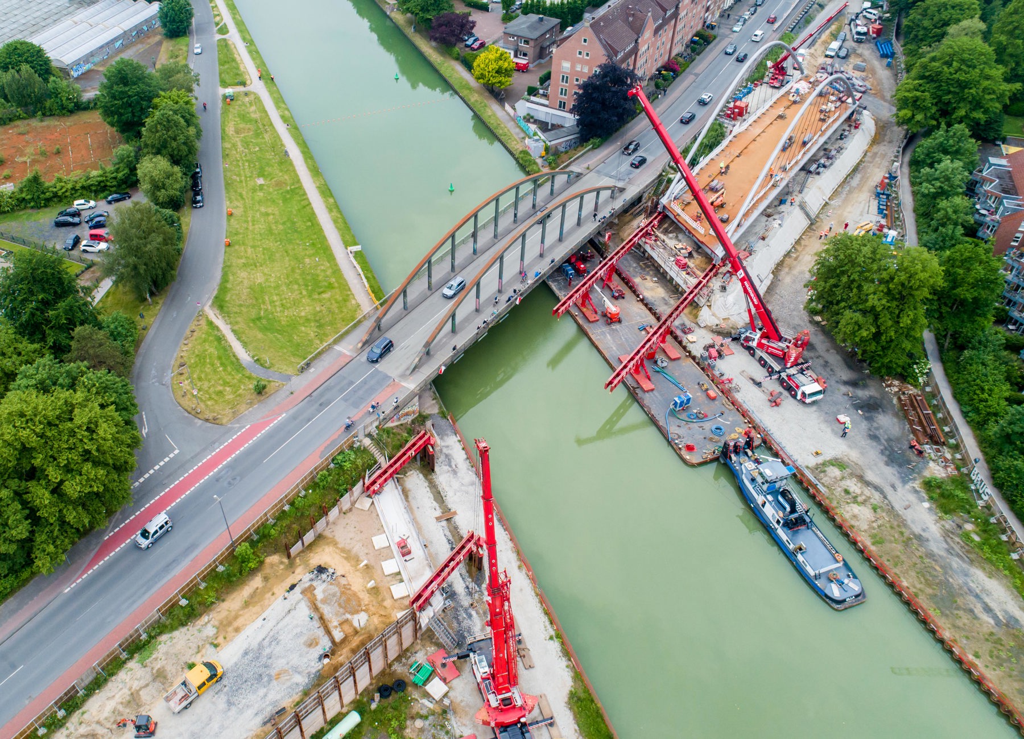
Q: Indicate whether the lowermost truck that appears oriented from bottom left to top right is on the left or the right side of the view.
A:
left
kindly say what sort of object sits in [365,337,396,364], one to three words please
car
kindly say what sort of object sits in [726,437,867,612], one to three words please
boat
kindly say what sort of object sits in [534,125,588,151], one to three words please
building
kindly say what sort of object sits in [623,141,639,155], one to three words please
car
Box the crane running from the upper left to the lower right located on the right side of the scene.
[606,83,826,401]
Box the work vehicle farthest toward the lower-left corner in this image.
[105,715,154,739]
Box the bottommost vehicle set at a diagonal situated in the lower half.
[155,659,226,719]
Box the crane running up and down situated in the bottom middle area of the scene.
[429,430,579,739]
